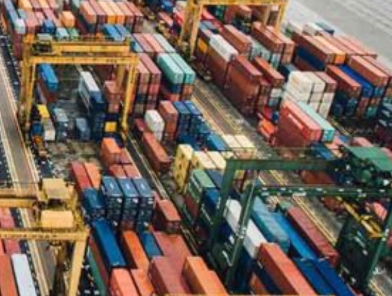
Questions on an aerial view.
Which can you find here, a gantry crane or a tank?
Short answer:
gantry crane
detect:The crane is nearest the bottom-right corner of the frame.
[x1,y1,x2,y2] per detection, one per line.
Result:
[209,146,392,290]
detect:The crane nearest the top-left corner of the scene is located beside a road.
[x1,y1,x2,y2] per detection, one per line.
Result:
[16,37,142,135]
